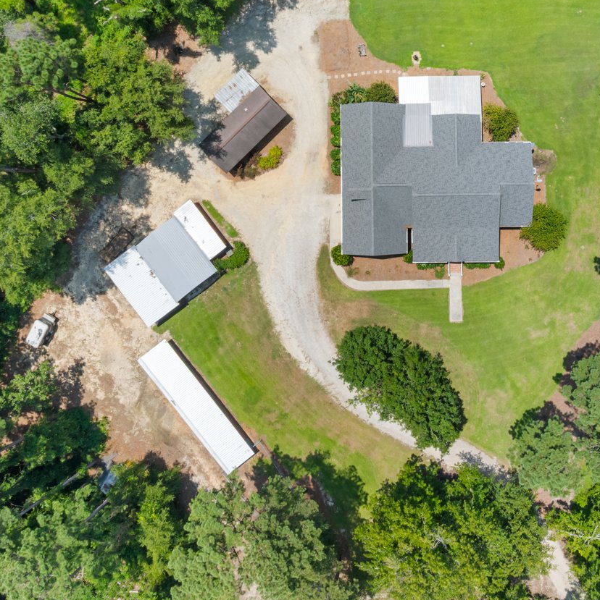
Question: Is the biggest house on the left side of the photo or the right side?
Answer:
right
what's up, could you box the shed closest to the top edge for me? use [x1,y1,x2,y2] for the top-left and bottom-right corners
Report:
[199,69,289,171]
